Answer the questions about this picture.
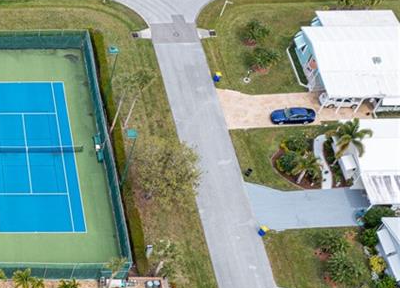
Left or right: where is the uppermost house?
right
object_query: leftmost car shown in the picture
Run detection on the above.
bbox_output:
[273,106,317,124]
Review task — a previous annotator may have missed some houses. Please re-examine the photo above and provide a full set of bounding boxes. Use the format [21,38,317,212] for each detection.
[292,10,400,113]
[337,116,400,217]
[379,217,400,286]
